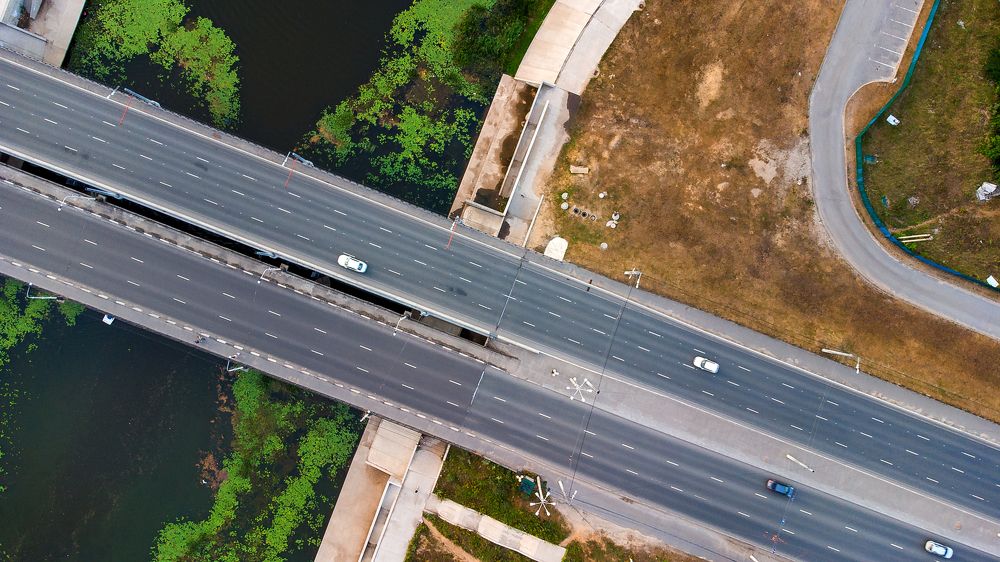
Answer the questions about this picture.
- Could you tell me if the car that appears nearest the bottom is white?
Yes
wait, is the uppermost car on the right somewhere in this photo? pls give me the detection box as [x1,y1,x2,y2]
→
[692,356,722,375]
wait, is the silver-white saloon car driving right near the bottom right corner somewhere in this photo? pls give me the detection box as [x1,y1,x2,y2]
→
[924,540,957,561]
